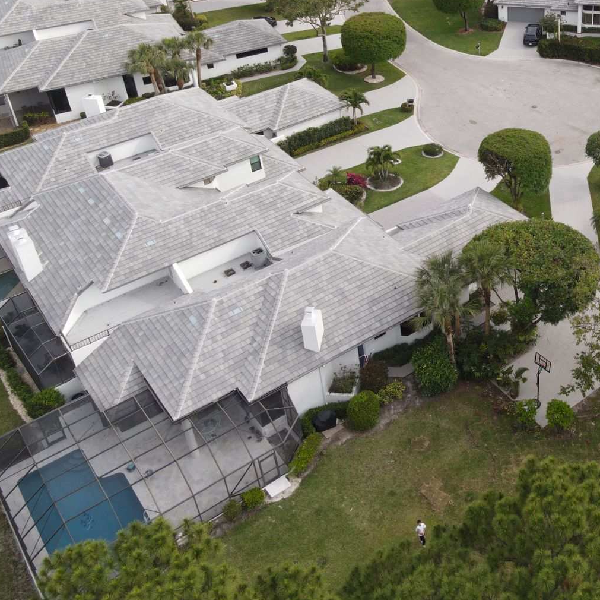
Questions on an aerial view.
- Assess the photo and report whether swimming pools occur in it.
Yes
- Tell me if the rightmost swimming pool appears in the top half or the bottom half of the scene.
bottom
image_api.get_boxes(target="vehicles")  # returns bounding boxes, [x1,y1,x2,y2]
[524,27,543,47]
[250,11,285,27]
